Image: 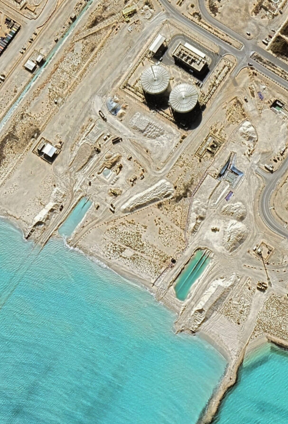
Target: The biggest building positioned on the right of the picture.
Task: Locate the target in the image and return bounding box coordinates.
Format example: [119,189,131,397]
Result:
[174,44,209,71]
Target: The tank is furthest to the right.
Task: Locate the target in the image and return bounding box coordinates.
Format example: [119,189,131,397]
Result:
[168,83,200,116]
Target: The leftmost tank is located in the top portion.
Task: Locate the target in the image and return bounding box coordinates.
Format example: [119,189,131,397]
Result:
[139,64,171,97]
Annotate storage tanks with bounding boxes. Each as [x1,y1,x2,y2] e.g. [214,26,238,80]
[139,64,171,97]
[168,83,200,116]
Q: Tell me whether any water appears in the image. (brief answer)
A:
Yes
